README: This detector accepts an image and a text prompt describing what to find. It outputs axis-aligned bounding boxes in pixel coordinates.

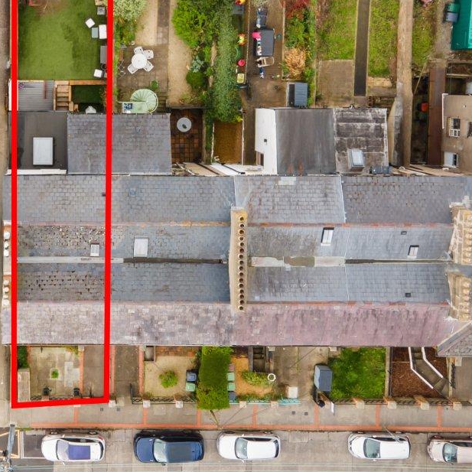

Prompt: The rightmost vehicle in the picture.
[425,433,472,467]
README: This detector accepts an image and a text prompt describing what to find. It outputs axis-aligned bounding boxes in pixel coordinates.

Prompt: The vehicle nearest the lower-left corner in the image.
[43,431,106,466]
